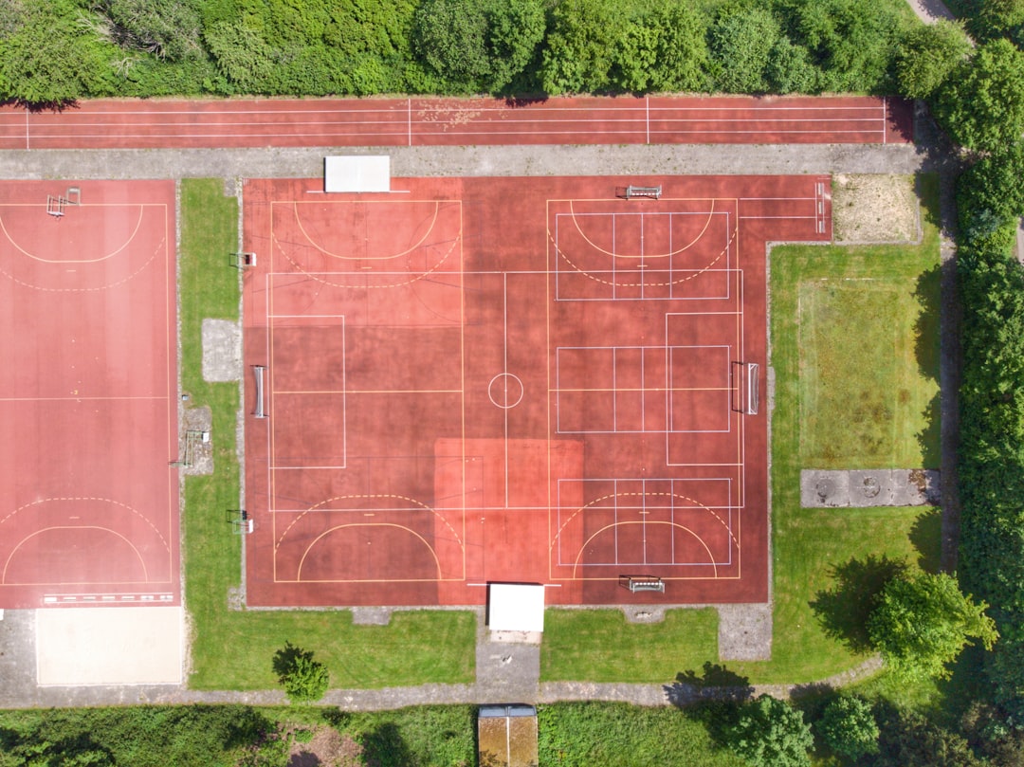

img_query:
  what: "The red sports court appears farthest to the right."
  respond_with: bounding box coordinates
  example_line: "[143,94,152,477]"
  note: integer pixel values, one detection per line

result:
[244,174,833,607]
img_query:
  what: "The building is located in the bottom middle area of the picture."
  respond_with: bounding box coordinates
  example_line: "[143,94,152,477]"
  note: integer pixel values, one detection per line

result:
[478,705,538,767]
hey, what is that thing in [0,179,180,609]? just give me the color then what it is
pink sports court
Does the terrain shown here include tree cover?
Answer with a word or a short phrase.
Yes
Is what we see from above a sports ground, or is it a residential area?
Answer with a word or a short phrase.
sports ground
